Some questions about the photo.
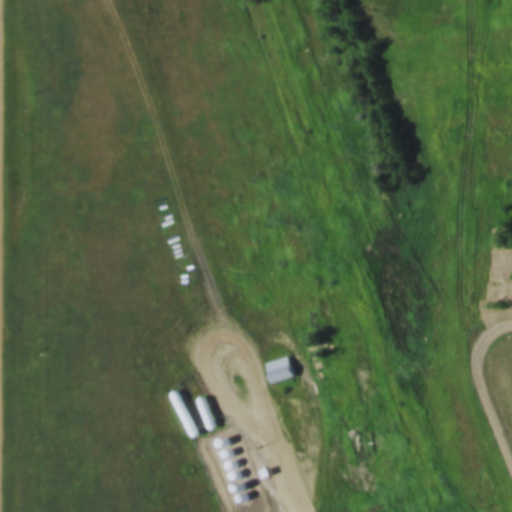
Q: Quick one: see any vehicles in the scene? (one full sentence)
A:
No, there appears to be no vehicle in this shot.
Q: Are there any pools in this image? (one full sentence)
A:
No, this view has no pool in it.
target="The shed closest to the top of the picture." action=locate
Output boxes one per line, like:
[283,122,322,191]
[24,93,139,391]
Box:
[265,356,296,384]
